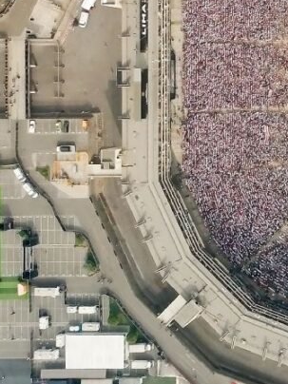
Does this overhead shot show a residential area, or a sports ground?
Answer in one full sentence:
This looks like a sports ground.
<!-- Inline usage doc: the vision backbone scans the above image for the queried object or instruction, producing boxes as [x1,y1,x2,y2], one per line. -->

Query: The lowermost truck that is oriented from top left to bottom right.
[17,181,41,202]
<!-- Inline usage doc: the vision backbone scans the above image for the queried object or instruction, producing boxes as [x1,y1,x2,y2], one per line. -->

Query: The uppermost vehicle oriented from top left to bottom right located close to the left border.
[7,164,30,184]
